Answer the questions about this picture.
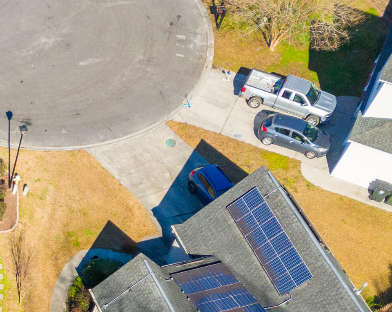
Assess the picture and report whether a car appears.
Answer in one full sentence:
Yes, the picture does show a car.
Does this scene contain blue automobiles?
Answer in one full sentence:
Yes, a blue automobile is visible in the scene.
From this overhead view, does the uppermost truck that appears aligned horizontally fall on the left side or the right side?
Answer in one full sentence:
The uppermost truck that appears aligned horizontally is on the right side of the image.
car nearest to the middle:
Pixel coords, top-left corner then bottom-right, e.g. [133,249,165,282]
[186,157,239,202]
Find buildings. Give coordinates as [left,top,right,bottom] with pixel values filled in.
[88,163,374,312]
[330,54,392,188]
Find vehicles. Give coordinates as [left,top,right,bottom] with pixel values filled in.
[235,62,348,124]
[257,106,337,159]
[186,157,239,202]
